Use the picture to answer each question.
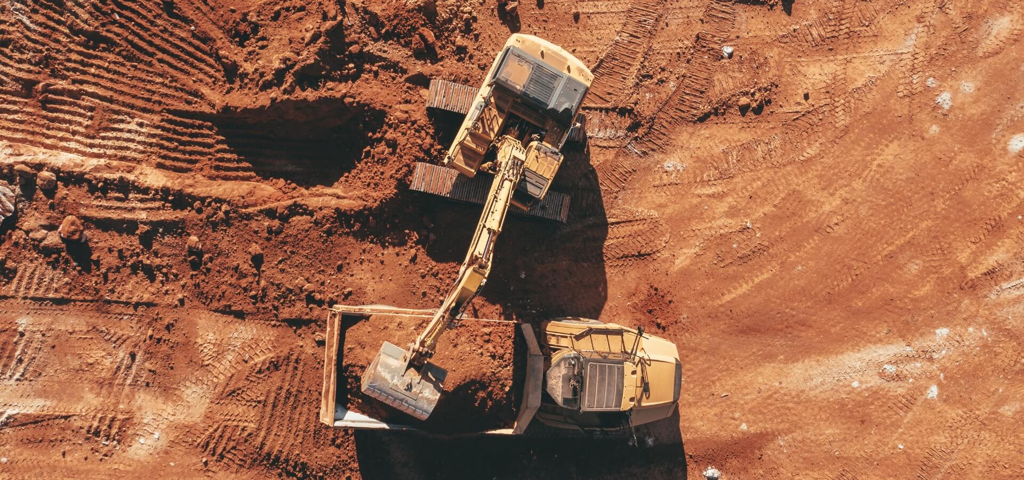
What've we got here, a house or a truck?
truck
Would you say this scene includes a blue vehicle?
No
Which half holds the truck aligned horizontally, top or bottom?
bottom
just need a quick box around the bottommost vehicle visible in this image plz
[322,301,680,447]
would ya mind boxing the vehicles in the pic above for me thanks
[365,36,590,420]
[322,301,680,447]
